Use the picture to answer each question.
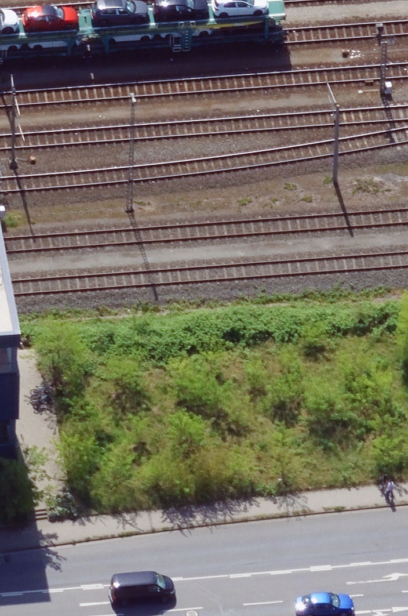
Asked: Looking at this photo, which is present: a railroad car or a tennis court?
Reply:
railroad car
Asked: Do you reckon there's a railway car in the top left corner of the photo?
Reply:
Yes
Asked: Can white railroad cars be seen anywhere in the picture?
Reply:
No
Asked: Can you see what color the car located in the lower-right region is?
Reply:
blue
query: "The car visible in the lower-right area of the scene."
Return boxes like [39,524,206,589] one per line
[294,590,356,616]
